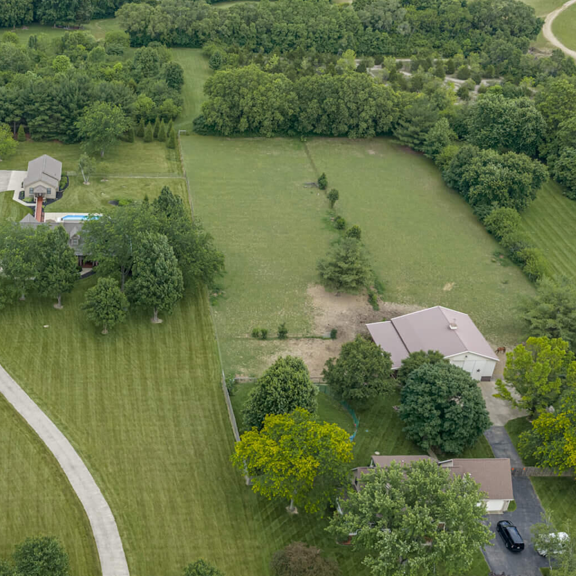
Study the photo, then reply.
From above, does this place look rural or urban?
rural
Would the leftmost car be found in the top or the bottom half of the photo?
bottom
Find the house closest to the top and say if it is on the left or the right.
left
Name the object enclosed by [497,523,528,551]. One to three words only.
car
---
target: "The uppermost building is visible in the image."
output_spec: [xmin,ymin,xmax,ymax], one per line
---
[21,153,63,202]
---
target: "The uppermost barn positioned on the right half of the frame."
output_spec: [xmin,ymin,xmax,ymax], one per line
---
[361,305,500,381]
